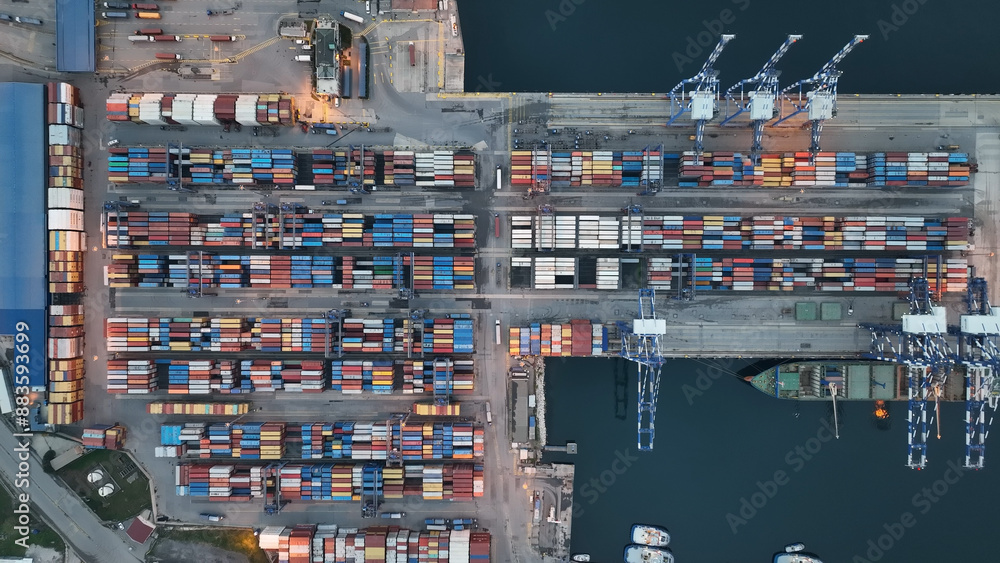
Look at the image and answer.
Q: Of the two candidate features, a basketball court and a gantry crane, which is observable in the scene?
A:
gantry crane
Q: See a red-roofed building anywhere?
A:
Yes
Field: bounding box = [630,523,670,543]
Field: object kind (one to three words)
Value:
boat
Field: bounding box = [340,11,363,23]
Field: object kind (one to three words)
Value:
vehicle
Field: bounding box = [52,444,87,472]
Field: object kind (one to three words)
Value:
shed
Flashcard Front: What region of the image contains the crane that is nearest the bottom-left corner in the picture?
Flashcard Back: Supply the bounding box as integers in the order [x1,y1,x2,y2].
[265,456,302,512]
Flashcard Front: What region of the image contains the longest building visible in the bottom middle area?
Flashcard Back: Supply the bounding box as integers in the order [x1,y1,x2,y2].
[512,379,528,443]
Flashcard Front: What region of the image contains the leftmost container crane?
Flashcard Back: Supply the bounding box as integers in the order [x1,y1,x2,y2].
[103,203,148,250]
